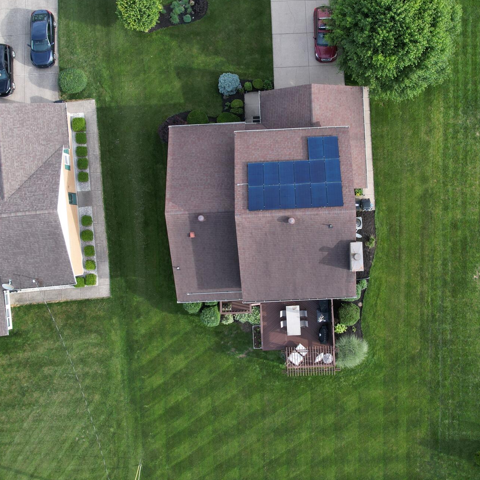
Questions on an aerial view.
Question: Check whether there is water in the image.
No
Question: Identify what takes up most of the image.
grass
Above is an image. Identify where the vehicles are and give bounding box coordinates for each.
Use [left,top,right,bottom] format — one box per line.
[0,42,17,98]
[311,5,339,63]
[25,10,57,70]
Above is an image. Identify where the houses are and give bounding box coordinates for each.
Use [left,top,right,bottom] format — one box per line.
[0,102,85,336]
[164,84,369,305]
